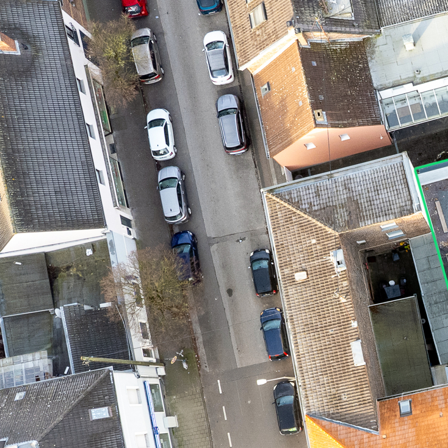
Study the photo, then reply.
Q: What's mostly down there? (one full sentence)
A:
Most of the picture is covered by buildings.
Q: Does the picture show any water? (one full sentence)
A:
No, the scene doesn't show any water.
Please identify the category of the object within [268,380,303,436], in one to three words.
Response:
car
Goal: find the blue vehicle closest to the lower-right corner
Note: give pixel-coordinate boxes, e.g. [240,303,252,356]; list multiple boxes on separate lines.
[259,306,292,362]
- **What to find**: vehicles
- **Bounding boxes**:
[247,248,279,298]
[203,30,236,88]
[268,380,303,436]
[156,166,191,225]
[213,93,250,157]
[144,108,179,163]
[132,27,166,87]
[259,306,292,362]
[195,0,223,18]
[169,230,203,285]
